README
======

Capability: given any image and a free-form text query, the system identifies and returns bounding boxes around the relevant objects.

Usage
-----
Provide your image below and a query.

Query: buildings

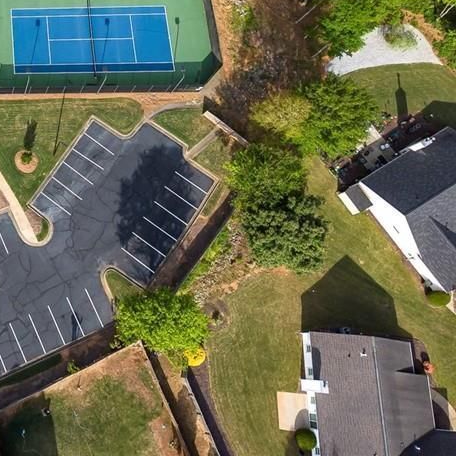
[338,128,456,297]
[296,333,456,456]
